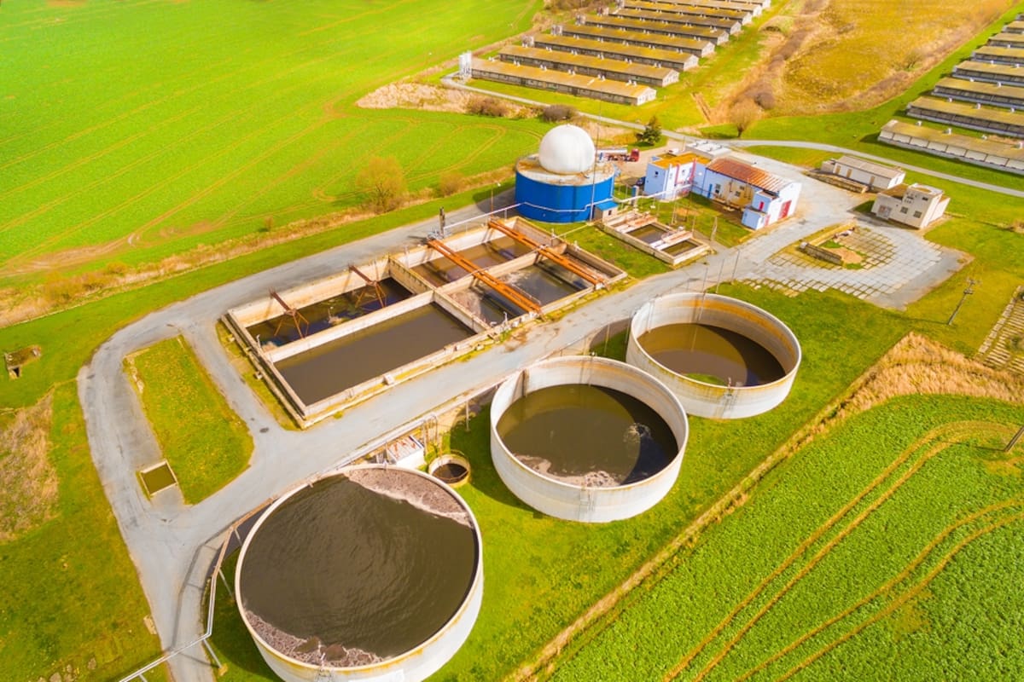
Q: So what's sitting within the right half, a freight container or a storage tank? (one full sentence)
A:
The feature located within the right half is a storage tank.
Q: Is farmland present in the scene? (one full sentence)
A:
Yes, the picture does contain farmland.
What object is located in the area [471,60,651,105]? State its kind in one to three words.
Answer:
barn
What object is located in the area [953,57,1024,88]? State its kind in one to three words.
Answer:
barn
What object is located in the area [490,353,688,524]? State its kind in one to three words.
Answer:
storage tank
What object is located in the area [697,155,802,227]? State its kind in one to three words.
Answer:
building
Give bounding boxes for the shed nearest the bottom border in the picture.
[384,431,425,467]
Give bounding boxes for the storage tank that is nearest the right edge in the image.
[627,289,801,420]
